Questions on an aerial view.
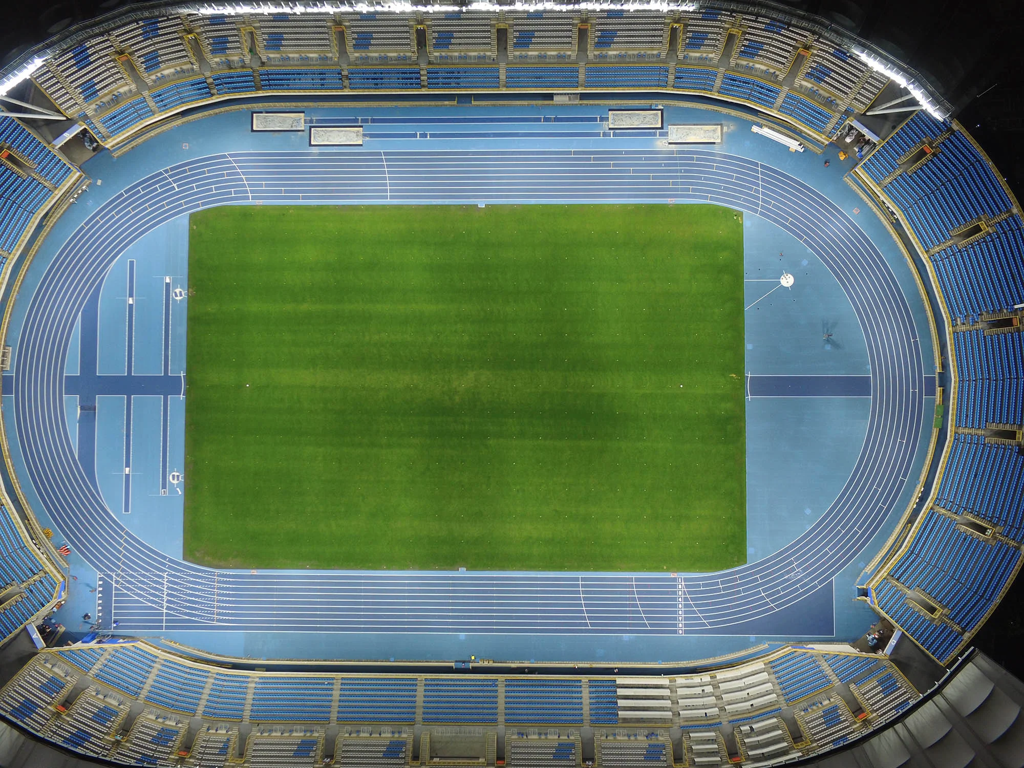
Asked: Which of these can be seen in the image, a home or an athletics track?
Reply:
athletics track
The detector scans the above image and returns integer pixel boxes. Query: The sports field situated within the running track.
[183,204,747,572]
